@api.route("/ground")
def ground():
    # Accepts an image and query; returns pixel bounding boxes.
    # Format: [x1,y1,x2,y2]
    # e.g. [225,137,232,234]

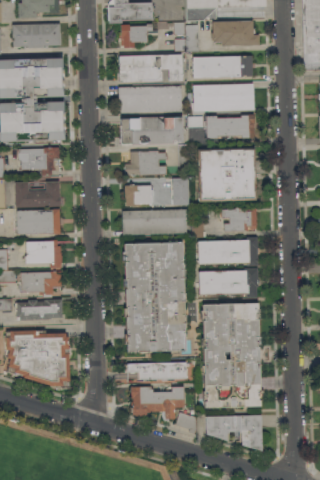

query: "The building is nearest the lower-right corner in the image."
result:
[207,416,262,450]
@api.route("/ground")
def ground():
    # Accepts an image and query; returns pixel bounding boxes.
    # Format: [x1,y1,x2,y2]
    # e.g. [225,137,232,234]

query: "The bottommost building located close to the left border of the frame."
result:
[7,332,70,386]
